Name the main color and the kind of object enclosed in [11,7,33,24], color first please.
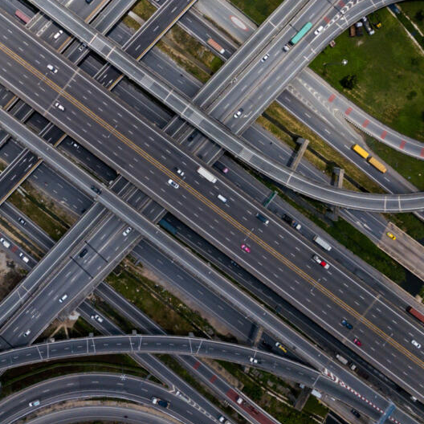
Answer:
pink vehicle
